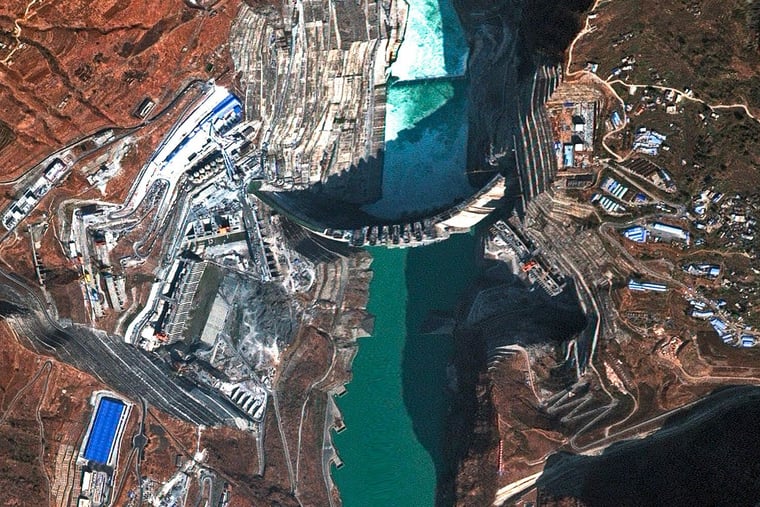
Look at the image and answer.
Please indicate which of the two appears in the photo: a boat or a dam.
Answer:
dam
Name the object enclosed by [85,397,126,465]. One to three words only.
building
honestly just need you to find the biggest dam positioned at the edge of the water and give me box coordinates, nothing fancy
[249,174,508,247]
